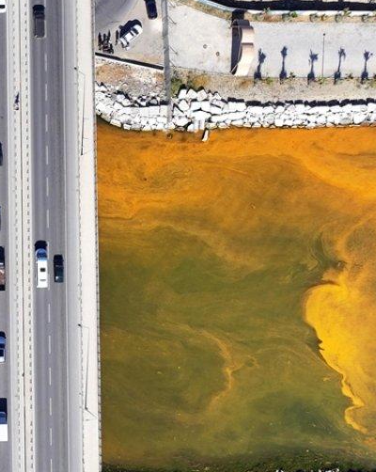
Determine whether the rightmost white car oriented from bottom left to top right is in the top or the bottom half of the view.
top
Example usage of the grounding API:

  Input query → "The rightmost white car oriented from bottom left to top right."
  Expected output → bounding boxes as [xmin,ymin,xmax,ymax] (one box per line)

[119,25,142,46]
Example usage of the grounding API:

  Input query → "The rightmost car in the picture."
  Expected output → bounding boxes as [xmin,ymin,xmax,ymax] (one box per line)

[145,0,157,18]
